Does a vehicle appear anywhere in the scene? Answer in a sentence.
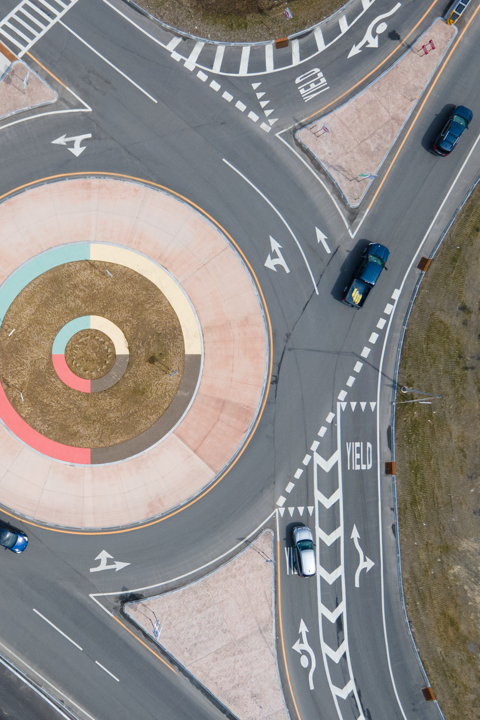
Yes, a vehicle can be made out from above.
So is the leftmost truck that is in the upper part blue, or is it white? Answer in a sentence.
The leftmost truck that is in the upper part is blue.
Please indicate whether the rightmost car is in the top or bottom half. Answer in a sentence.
The rightmost car is in the top half of the image.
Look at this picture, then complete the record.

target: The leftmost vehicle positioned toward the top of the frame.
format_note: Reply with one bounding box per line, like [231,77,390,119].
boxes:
[340,245,386,310]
